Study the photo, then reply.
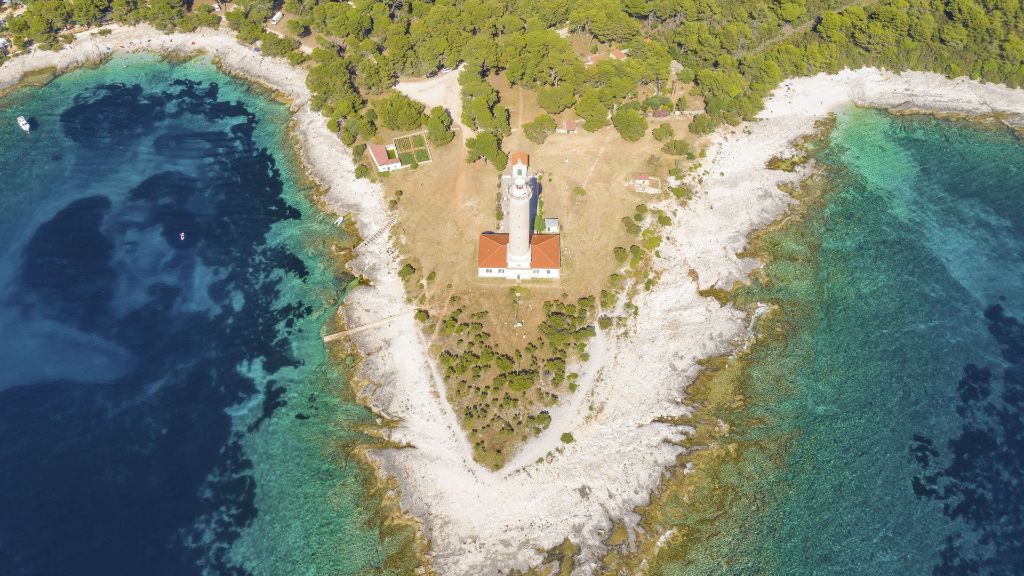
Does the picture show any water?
Yes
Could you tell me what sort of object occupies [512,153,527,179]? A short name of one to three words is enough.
building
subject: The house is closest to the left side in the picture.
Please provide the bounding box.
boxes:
[373,138,403,172]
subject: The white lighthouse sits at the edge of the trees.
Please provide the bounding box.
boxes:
[478,178,560,283]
